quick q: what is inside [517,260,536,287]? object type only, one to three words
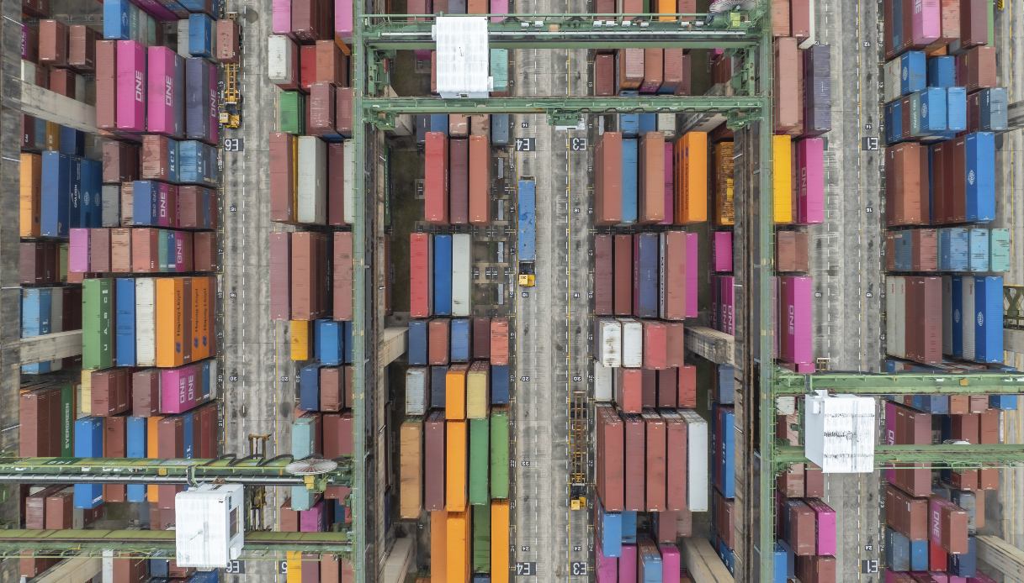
vehicle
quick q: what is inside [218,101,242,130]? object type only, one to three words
truck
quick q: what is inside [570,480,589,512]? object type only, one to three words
vehicle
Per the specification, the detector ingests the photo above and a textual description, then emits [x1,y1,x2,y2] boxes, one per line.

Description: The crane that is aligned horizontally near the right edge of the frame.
[767,364,1024,474]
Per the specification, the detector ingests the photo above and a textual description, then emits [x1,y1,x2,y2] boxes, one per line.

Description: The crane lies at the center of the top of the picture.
[356,0,768,139]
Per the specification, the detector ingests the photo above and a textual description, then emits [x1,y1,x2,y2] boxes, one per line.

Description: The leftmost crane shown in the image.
[0,447,359,567]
